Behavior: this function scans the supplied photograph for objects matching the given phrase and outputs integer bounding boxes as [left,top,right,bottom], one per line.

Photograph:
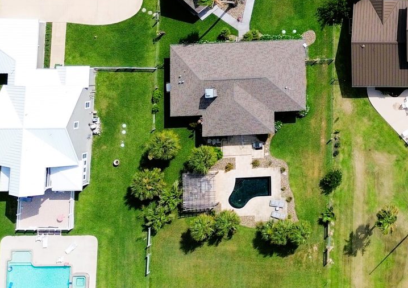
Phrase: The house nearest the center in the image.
[170,39,306,137]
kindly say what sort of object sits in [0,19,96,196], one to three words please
house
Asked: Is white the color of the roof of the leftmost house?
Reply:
Yes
